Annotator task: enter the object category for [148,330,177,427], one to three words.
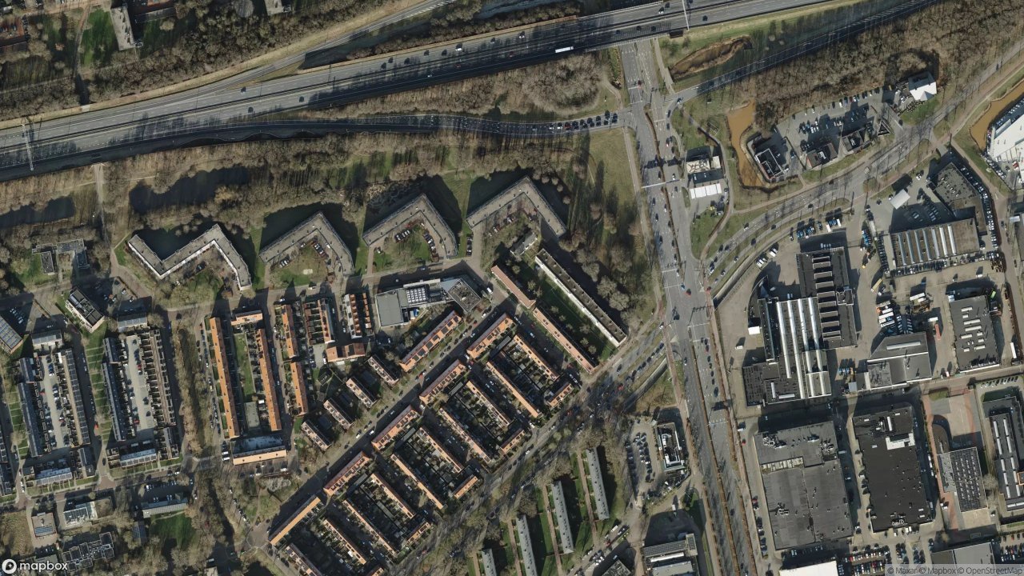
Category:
house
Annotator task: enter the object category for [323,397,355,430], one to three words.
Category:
building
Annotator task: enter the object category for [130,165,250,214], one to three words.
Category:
pond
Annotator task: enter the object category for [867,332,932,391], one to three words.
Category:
building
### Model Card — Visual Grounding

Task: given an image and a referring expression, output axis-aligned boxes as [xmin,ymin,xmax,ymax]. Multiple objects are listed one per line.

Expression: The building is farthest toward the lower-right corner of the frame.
[953,542,999,576]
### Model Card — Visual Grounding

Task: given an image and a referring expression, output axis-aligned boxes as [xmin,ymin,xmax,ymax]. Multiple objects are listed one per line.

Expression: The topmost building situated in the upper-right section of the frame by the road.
[906,70,940,103]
